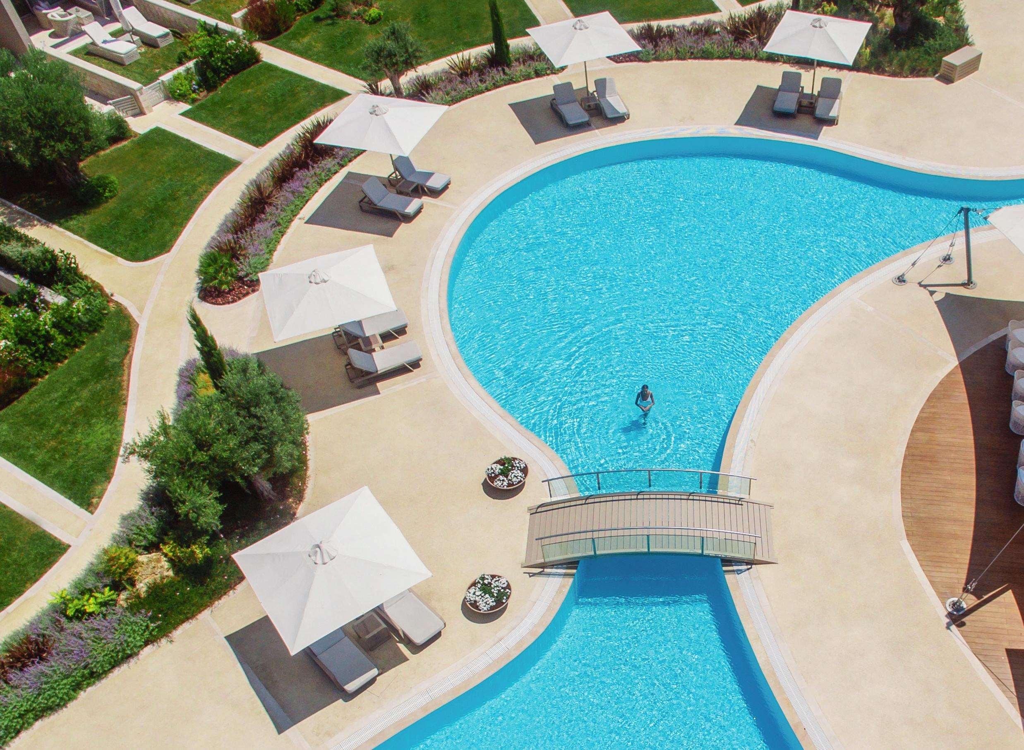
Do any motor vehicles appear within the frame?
No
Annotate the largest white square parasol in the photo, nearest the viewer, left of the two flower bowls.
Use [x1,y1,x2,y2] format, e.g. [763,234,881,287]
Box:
[229,488,430,658]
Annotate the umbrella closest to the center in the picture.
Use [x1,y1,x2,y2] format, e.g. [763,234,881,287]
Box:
[257,245,395,373]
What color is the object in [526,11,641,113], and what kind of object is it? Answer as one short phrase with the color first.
white umbrella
